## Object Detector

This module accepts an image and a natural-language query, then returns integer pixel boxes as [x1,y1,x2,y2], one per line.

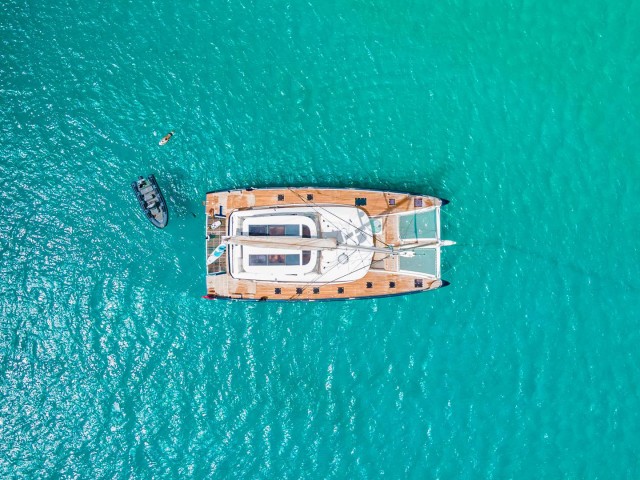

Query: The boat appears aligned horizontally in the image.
[202,187,472,301]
